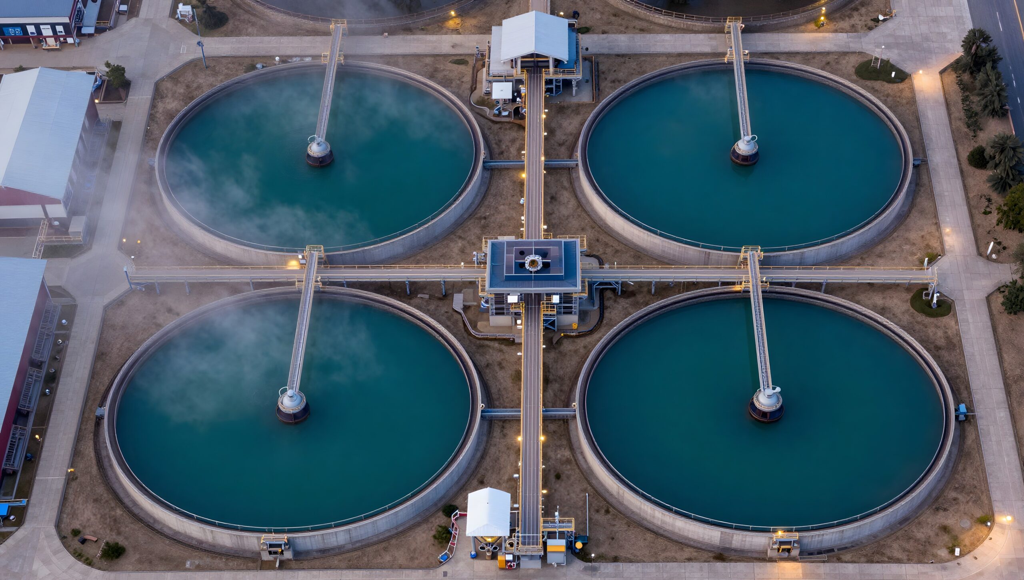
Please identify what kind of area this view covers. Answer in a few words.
industrial area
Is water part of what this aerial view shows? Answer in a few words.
Yes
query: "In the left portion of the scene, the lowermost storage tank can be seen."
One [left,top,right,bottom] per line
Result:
[94,287,496,561]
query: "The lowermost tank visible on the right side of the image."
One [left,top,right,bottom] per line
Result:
[563,286,966,560]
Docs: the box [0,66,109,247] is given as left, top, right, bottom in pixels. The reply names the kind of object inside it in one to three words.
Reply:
building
